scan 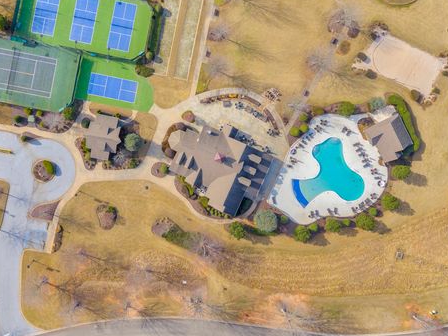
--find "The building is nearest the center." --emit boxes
[166,121,282,216]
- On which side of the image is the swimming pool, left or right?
right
